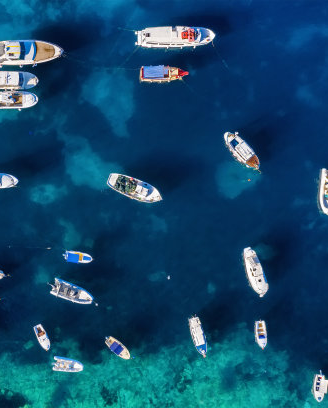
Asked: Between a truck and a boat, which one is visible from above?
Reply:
boat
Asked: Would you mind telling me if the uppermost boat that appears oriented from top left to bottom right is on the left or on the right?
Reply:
right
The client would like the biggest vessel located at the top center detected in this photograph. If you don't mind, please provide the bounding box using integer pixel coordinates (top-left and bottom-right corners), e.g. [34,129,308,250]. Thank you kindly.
[117,24,228,68]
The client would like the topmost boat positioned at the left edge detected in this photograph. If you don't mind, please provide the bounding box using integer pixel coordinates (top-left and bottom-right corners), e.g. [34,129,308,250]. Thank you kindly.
[0,41,71,66]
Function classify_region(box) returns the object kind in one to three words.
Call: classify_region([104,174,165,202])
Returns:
boat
